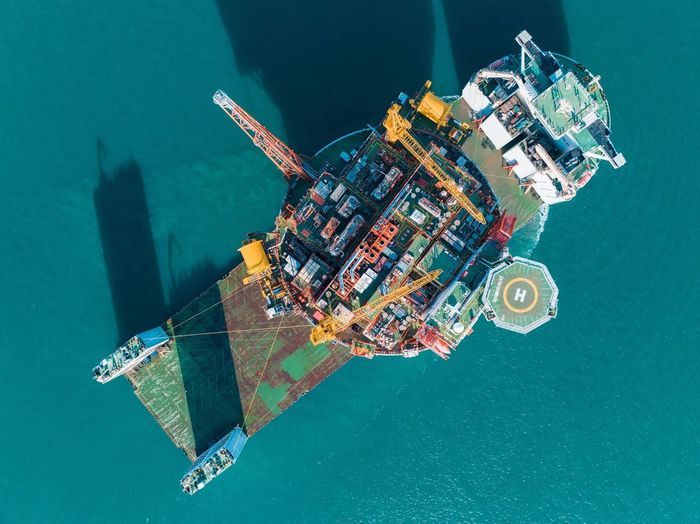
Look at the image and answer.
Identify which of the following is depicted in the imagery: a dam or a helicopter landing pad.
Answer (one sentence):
The image shows a helicopter landing pad.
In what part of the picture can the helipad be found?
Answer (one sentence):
The helipad is located in the right region of the scene.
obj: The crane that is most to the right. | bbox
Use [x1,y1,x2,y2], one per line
[532,144,575,197]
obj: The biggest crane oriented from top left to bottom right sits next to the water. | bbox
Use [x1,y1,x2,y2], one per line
[381,112,486,223]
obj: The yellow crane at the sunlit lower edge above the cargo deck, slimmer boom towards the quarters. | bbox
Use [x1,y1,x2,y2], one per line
[305,270,443,344]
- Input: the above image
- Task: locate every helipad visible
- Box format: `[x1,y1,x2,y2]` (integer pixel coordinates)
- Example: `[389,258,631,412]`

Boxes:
[481,255,560,333]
